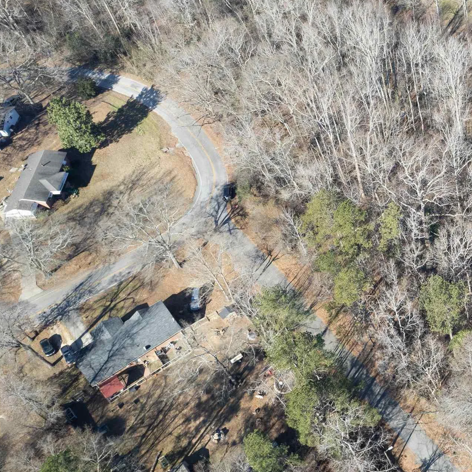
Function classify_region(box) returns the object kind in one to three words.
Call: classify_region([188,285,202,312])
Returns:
vehicle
